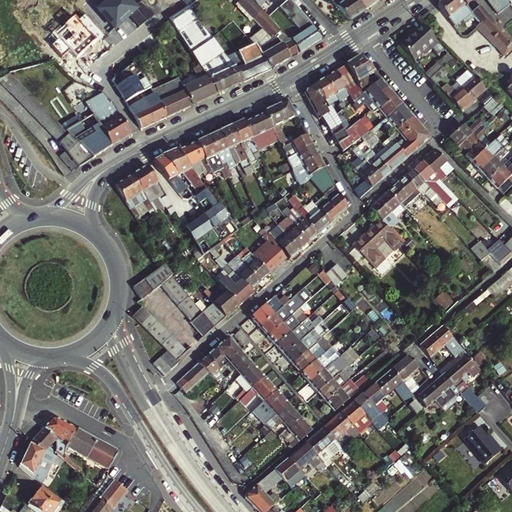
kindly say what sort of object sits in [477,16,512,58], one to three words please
house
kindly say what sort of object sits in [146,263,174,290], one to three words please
building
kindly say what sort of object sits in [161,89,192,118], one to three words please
house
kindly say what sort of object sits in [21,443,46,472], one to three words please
building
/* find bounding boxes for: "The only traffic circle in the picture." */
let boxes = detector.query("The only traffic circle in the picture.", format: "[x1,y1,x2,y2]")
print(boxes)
[0,204,132,367]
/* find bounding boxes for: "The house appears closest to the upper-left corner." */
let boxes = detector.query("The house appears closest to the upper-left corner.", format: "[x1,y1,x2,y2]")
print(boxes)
[51,14,106,72]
